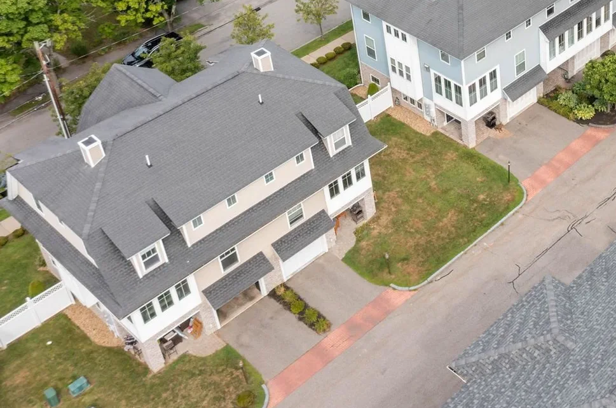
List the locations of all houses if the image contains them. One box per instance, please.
[423,240,616,408]
[344,0,616,147]
[0,38,388,371]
